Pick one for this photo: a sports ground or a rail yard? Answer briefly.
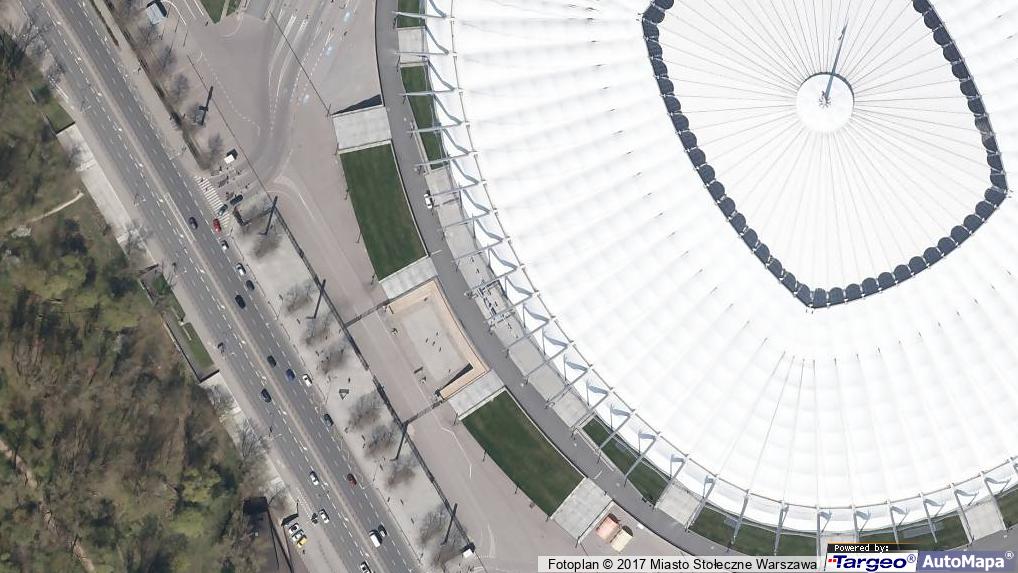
sports ground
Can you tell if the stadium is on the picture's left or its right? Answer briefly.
right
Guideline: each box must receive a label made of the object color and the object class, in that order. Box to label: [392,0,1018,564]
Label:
white stadium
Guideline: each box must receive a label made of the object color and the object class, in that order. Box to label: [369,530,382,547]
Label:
white vehicle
